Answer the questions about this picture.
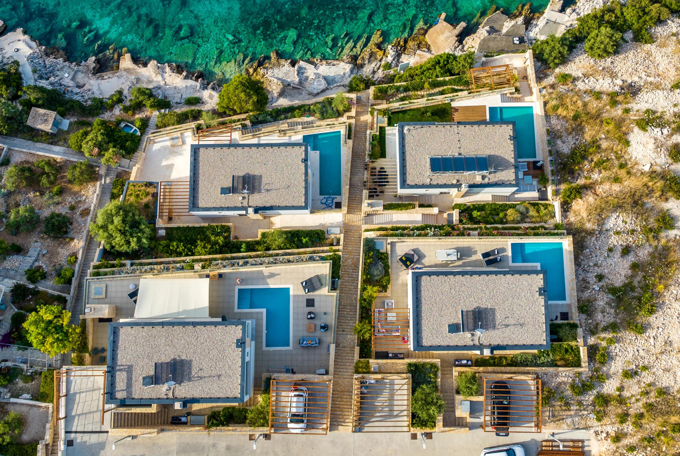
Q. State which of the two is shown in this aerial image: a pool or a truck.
pool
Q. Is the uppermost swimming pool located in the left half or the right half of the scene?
right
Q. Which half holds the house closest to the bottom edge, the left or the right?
left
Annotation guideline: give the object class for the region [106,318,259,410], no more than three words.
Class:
house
